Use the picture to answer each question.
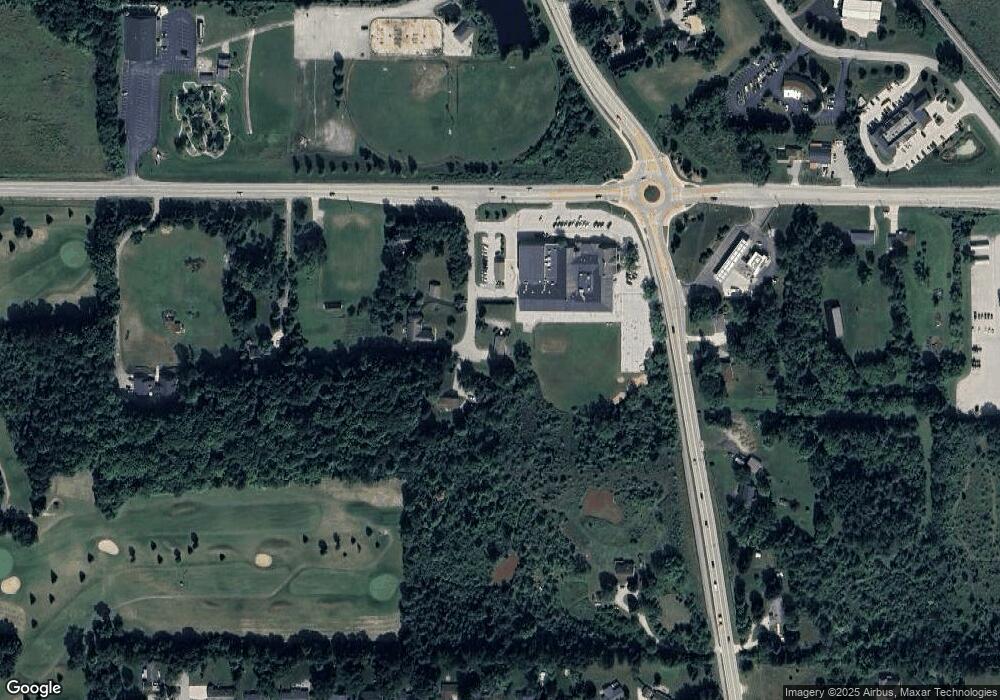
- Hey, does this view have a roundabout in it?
Yes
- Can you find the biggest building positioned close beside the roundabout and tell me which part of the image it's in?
center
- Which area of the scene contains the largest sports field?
top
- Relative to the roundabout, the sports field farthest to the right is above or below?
below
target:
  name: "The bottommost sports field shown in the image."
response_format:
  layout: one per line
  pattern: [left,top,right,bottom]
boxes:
[534,323,647,408]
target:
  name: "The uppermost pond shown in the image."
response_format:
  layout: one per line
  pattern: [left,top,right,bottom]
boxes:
[486,0,533,56]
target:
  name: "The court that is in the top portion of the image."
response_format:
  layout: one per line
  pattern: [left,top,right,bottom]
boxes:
[369,19,442,57]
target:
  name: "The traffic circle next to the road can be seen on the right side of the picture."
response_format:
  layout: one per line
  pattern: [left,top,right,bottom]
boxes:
[600,149,704,240]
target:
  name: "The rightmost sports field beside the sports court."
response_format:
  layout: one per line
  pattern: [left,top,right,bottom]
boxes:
[344,58,559,167]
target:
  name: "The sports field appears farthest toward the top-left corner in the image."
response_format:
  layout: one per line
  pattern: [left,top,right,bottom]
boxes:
[294,61,368,156]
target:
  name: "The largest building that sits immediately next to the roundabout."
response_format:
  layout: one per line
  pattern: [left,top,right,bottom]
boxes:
[519,245,620,311]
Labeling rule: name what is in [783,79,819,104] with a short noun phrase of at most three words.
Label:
building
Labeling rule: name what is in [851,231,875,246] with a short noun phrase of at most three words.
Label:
house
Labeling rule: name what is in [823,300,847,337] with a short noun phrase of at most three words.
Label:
barn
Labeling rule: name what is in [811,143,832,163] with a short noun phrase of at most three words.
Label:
building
